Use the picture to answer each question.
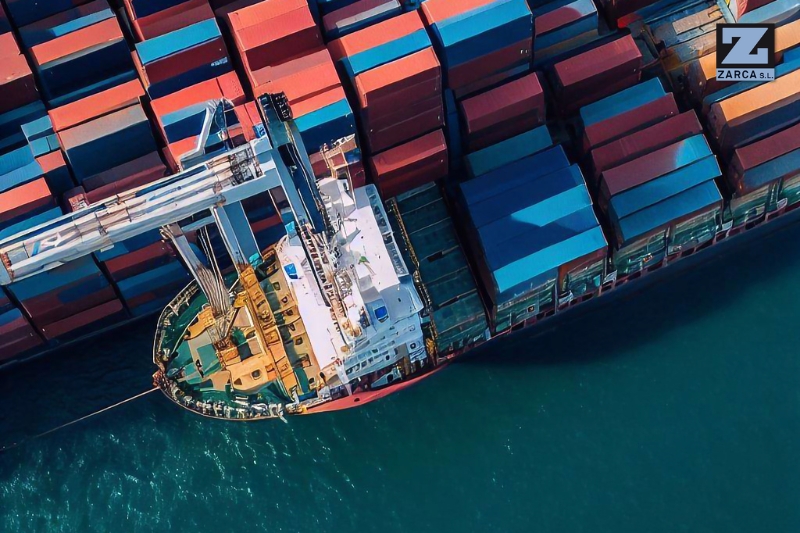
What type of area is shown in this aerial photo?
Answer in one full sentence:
This looks like a port.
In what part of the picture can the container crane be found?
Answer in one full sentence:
Look in the left portion of the view to spot the container crane.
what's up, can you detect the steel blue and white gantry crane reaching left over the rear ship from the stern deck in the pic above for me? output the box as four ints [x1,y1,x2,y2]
[0,88,366,352]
